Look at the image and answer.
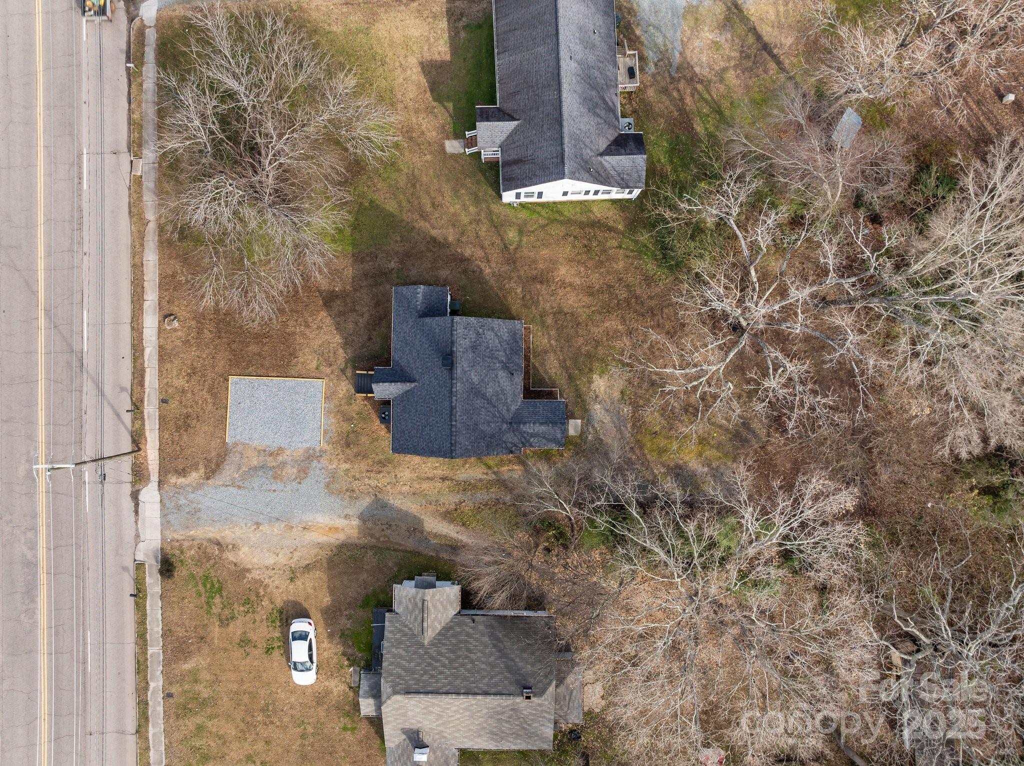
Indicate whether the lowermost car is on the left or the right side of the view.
left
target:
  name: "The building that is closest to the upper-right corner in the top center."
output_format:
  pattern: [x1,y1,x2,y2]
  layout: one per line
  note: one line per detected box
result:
[474,0,649,203]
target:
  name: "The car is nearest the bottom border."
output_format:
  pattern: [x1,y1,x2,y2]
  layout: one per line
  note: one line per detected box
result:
[289,617,319,684]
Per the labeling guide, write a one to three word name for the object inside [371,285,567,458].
house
